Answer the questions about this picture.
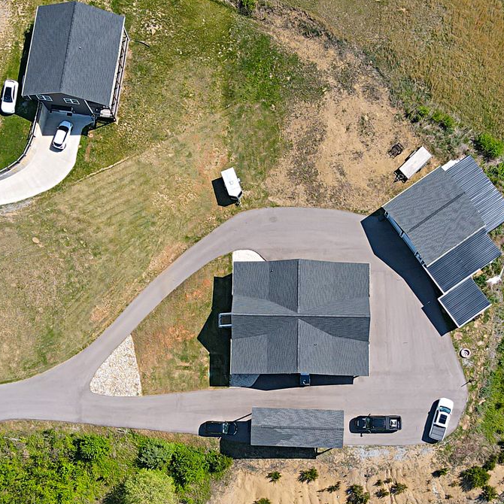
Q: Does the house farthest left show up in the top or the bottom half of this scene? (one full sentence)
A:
The top half of the photo is where the house farthest left is.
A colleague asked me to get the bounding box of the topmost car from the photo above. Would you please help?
[0,82,18,115]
